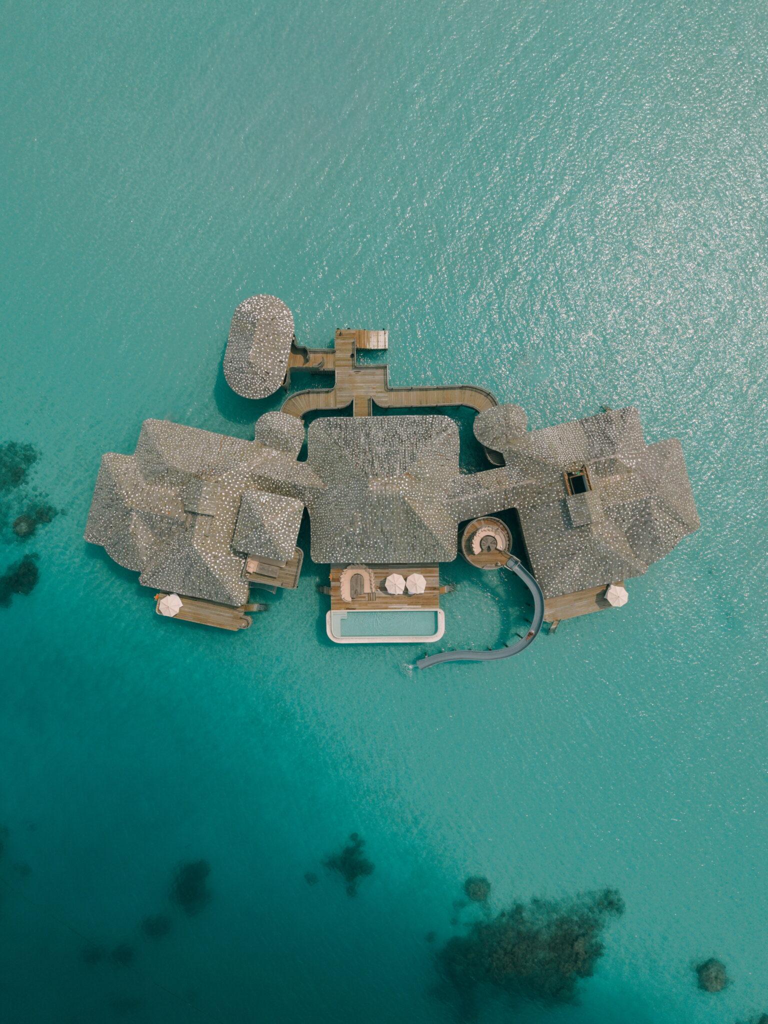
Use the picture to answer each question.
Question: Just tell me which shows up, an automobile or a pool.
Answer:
pool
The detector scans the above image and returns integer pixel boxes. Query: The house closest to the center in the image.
[307,414,459,564]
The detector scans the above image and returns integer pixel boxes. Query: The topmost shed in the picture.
[223,295,294,399]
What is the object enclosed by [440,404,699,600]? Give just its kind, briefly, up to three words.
house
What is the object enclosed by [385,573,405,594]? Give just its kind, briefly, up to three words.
umbrella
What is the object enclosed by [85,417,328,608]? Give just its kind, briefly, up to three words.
house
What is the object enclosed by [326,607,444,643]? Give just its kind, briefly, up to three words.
swimming pool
